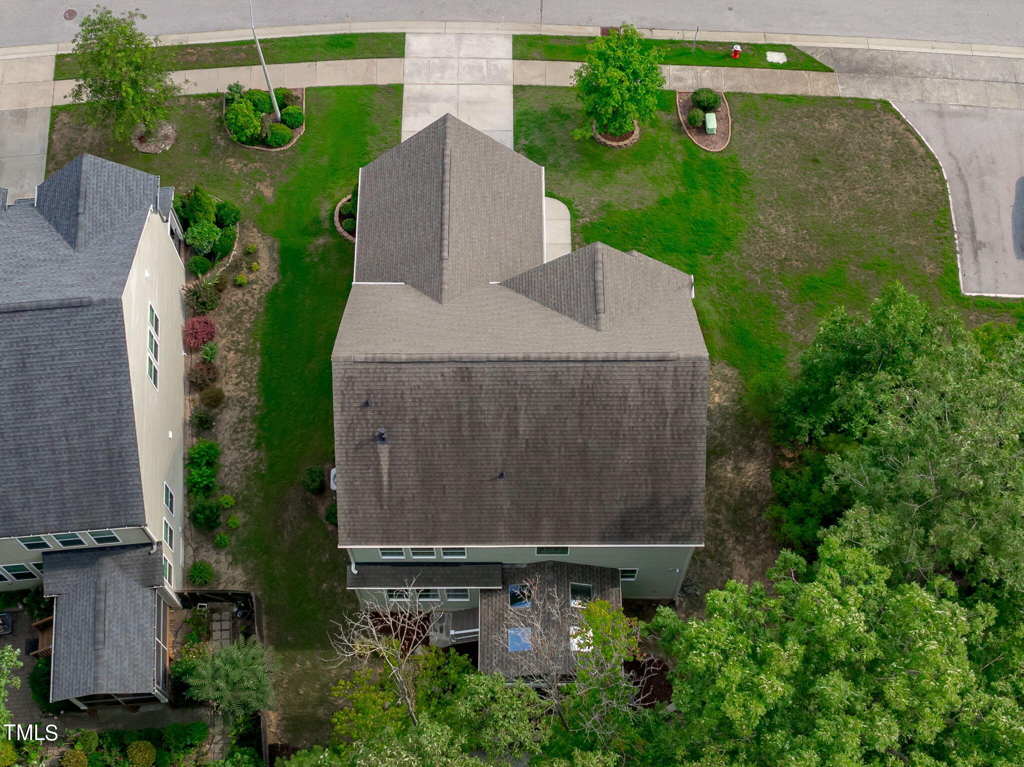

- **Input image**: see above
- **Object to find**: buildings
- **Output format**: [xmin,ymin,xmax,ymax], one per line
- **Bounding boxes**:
[332,115,713,693]
[0,150,189,713]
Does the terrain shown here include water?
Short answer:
No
